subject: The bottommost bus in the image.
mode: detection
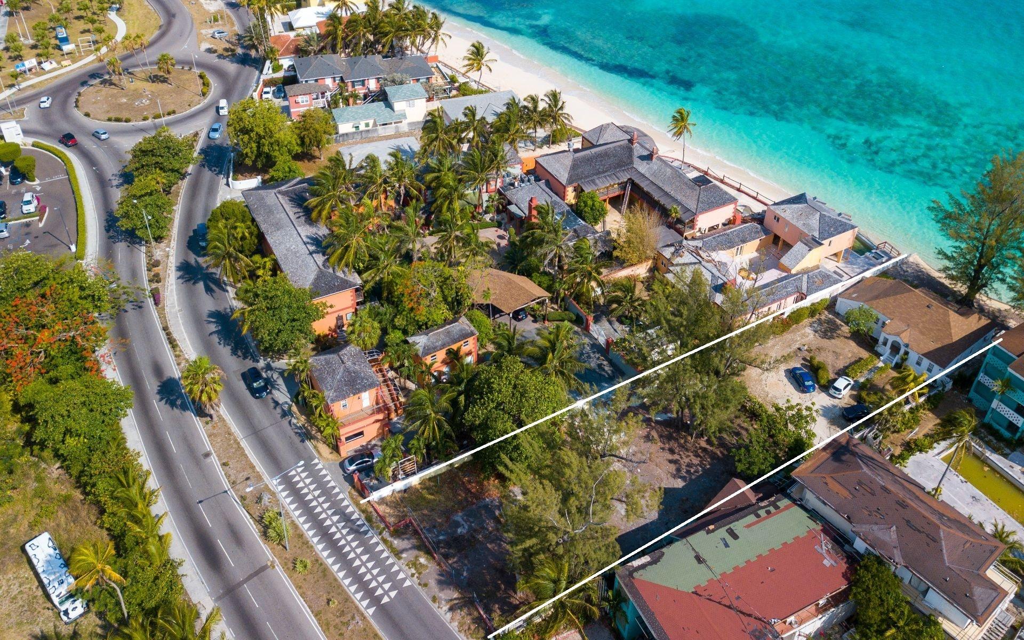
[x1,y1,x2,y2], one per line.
[23,530,90,632]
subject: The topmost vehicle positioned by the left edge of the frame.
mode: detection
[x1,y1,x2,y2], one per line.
[35,95,57,109]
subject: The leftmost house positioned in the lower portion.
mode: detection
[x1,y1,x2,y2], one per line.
[309,344,392,455]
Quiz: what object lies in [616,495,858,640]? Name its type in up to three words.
house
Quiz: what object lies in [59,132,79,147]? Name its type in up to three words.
car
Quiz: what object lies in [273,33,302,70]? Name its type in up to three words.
house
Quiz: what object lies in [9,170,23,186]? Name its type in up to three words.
car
